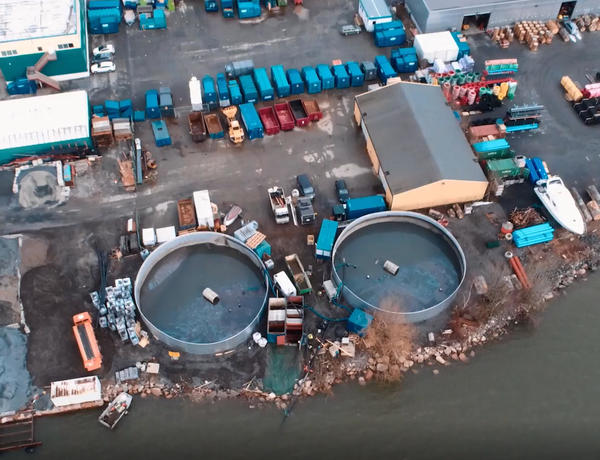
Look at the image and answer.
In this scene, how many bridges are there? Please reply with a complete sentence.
There are no bridges in this view.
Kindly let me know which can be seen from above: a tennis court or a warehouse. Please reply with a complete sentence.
The image shows a warehouse.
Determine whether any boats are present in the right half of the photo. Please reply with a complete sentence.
Yes, you'll find a boat in the right half of the photo.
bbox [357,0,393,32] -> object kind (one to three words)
building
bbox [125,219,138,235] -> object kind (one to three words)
vehicle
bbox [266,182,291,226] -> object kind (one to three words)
truck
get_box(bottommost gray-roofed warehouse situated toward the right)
[358,78,497,209]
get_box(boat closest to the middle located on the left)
[223,202,244,225]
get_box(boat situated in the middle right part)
[532,177,589,237]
